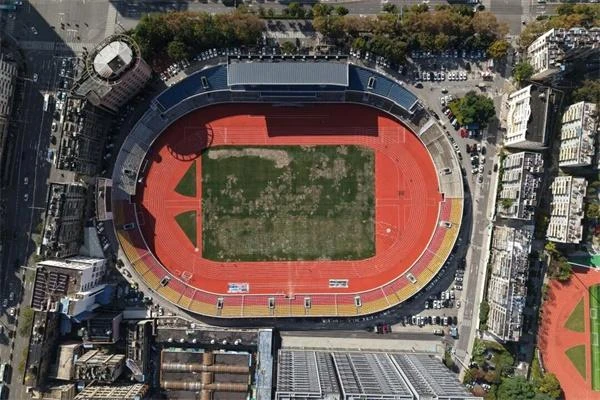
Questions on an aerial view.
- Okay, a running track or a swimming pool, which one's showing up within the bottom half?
running track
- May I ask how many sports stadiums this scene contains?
1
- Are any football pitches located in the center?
Yes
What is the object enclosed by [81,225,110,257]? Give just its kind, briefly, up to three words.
shed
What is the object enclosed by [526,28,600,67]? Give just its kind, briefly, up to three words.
building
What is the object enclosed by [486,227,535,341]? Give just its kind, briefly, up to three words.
building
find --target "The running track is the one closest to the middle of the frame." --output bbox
[136,100,440,296]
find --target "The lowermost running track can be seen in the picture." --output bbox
[537,269,600,400]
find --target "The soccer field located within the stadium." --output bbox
[202,146,375,262]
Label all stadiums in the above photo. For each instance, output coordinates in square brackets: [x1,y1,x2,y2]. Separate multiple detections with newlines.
[111,56,463,320]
